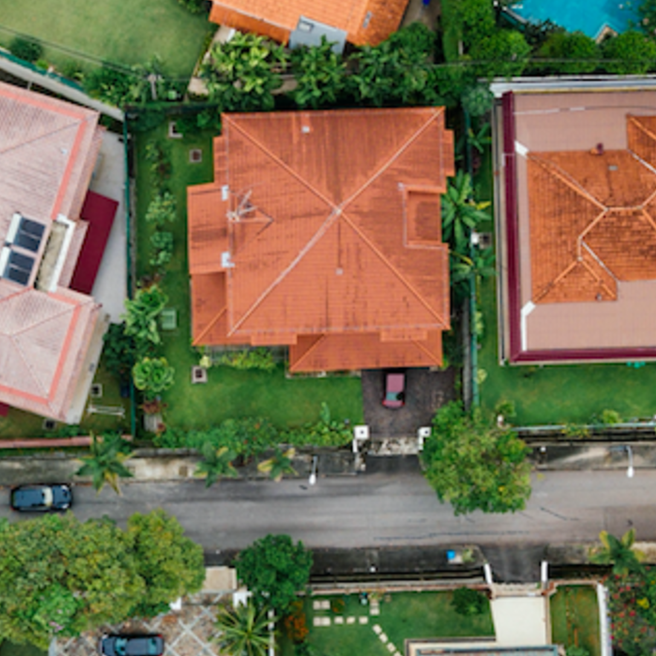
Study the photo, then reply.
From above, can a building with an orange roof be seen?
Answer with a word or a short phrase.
Yes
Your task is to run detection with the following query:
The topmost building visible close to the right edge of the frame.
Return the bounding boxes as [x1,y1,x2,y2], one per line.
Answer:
[479,76,656,368]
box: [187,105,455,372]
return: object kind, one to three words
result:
house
